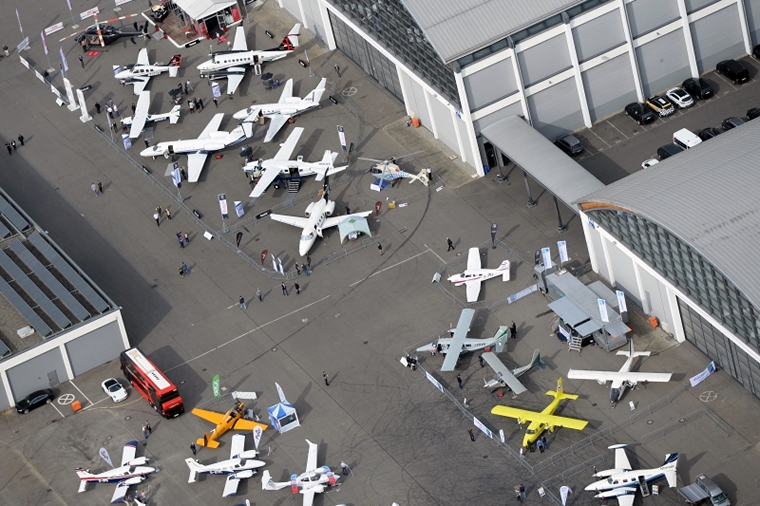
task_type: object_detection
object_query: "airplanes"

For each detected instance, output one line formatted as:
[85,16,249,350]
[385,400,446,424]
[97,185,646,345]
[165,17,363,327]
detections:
[569,344,675,413]
[586,444,681,506]
[270,171,376,257]
[188,437,266,499]
[140,113,252,185]
[198,22,300,93]
[491,384,589,450]
[235,76,330,142]
[82,443,159,505]
[483,349,545,394]
[189,398,269,453]
[447,249,509,300]
[418,309,504,369]
[261,444,340,506]
[121,89,181,135]
[241,125,341,195]
[117,50,182,96]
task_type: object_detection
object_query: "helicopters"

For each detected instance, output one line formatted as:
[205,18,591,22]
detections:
[56,16,145,59]
[346,144,434,191]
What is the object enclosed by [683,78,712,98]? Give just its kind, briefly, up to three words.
car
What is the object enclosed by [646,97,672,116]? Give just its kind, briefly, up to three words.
car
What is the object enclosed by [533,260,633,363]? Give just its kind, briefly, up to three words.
truck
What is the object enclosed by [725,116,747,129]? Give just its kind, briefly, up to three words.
vehicle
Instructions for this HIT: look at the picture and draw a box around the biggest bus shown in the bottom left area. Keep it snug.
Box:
[120,349,182,420]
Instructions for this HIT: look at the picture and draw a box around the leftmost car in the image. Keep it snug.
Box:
[14,390,56,415]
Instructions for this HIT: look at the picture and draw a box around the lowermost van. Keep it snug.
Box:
[680,473,733,506]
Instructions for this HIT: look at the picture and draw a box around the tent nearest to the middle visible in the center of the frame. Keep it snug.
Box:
[335,216,373,247]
